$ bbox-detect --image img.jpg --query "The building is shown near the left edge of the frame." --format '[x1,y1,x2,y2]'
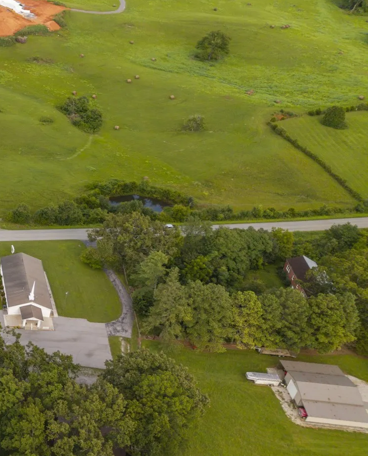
[0,253,55,335]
